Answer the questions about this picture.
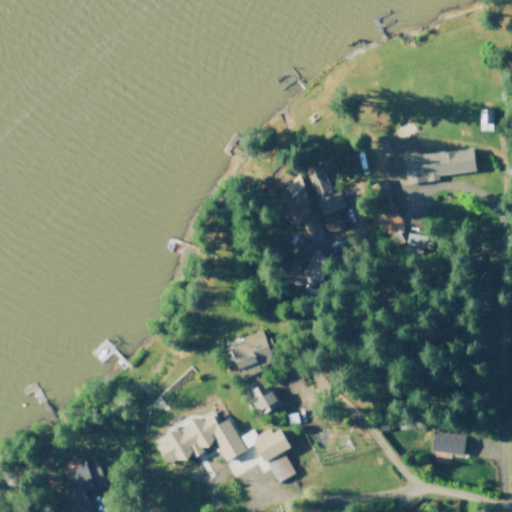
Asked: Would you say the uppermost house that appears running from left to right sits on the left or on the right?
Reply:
right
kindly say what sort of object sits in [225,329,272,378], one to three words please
house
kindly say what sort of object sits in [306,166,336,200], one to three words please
house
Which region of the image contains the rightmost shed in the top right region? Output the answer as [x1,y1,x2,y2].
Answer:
[480,108,495,132]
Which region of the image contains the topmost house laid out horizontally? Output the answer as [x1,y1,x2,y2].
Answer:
[406,146,479,183]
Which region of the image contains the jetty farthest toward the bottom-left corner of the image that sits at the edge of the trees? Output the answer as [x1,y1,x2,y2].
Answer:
[24,381,61,424]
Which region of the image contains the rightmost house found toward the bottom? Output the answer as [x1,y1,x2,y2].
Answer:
[432,432,467,460]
